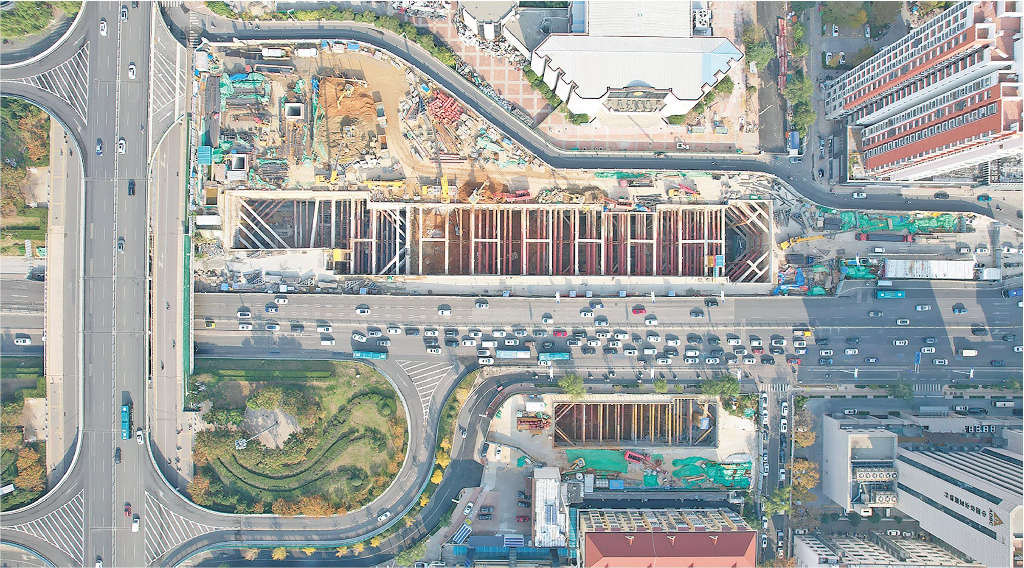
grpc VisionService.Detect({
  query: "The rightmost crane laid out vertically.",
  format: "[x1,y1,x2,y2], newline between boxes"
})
[424,119,455,204]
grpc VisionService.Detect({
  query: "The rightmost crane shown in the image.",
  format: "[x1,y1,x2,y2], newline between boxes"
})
[771,223,882,256]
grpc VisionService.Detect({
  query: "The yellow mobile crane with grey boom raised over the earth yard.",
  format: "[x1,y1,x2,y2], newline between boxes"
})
[314,131,348,188]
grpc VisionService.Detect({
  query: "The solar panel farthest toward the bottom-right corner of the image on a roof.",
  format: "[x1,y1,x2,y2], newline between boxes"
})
[545,506,558,526]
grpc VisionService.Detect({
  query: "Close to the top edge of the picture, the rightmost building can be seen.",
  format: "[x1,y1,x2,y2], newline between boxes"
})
[828,0,1024,176]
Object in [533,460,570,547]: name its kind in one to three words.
house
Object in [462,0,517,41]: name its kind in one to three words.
building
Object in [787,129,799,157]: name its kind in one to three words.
vehicle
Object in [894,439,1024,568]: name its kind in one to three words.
building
